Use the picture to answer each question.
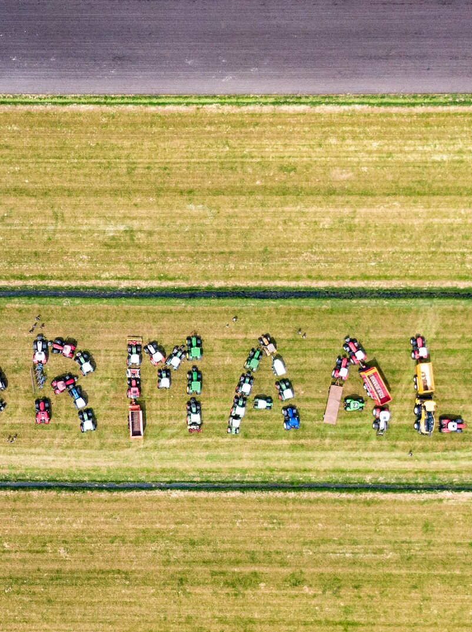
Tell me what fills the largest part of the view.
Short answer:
grass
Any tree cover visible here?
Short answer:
No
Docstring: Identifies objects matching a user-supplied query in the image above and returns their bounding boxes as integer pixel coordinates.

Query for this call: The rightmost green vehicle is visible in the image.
[343,399,366,412]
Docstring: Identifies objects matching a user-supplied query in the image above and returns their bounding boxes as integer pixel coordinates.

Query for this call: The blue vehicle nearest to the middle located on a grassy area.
[282,404,300,429]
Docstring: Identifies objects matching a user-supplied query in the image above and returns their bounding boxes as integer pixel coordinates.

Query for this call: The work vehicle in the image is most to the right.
[439,419,465,432]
